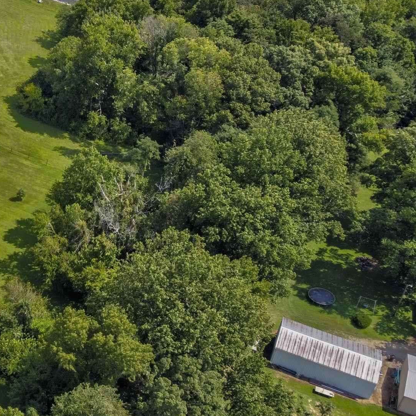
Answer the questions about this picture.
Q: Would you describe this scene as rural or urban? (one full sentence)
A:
From above, the setting appears rural.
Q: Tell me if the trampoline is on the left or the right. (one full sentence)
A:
It is on the right.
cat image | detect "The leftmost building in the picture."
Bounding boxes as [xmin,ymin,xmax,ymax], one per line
[270,316,382,399]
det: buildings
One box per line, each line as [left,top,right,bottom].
[398,352,416,416]
[270,316,382,399]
